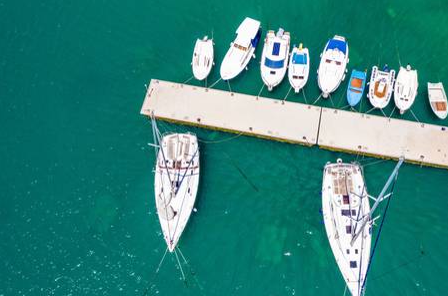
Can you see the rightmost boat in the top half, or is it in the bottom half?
top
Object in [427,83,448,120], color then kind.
white boat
